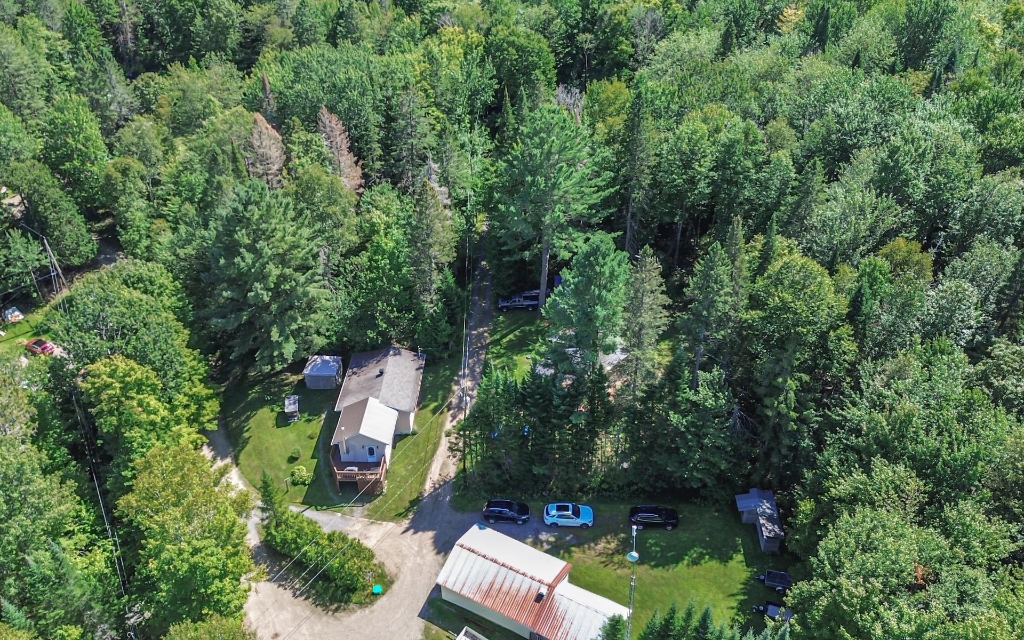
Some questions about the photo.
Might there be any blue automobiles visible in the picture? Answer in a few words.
Yes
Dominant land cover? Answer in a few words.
trees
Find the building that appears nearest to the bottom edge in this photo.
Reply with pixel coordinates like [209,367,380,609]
[437,523,639,640]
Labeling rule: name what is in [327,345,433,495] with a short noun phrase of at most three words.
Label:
house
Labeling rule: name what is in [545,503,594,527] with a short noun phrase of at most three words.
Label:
car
